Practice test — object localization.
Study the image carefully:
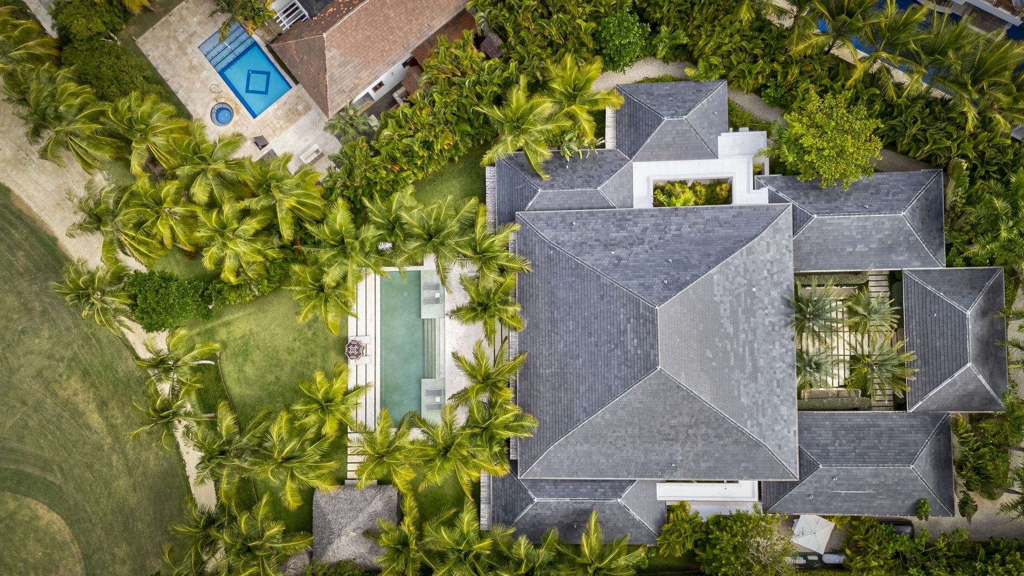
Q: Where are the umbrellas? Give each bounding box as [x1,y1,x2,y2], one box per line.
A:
[345,341,363,359]
[791,515,835,554]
